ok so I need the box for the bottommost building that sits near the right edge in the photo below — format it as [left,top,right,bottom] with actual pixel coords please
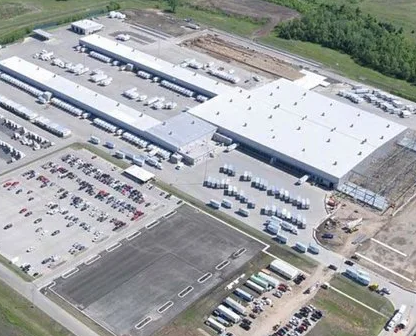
[338,135,416,211]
